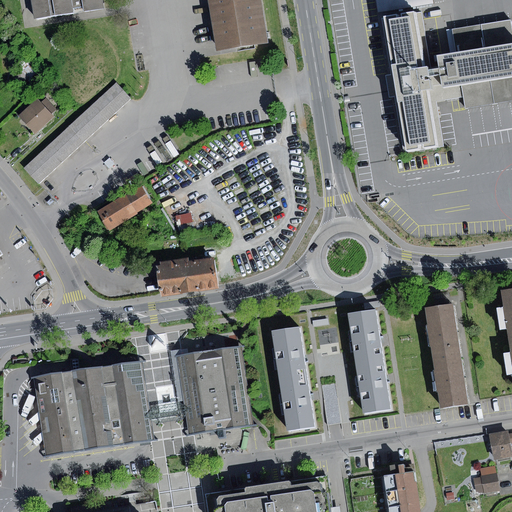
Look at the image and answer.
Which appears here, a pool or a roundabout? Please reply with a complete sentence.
Looking from above, you can make out a roundabout.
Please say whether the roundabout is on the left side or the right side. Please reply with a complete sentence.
The roundabout is on the right side of the image.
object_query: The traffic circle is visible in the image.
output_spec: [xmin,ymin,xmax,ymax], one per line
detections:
[306,218,394,296]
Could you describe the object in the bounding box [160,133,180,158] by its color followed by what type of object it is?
white truck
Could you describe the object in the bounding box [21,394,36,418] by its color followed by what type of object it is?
white vehicle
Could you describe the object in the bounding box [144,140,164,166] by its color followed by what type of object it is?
white vehicle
